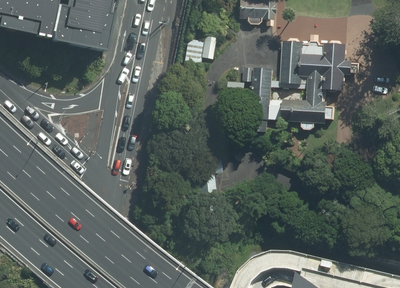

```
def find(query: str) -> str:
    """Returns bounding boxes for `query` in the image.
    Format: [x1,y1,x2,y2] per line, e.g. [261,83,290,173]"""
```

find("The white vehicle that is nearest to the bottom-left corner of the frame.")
[70,160,86,174]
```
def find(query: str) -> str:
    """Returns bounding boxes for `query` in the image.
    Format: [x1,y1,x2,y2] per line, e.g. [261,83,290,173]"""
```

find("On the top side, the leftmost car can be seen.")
[2,99,18,114]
